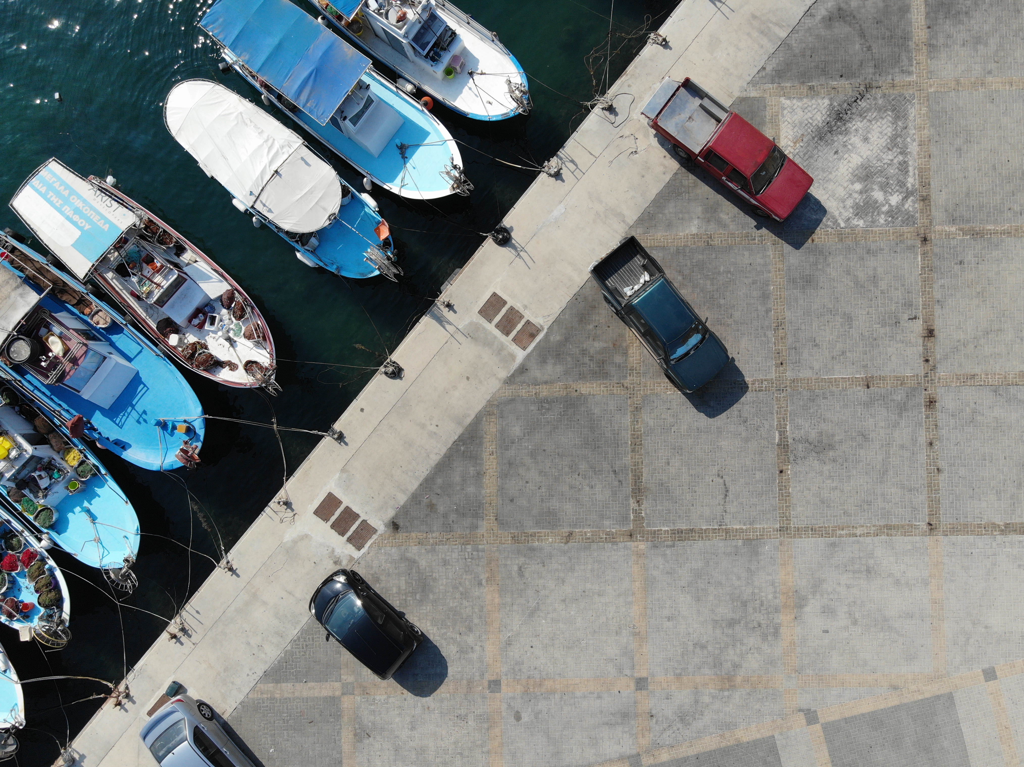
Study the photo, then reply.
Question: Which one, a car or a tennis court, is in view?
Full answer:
There is a car in the scene.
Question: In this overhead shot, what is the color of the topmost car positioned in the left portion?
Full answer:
The topmost car positioned in the left portion looks black in the image.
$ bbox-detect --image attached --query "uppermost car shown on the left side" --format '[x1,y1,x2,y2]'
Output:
[308,568,425,680]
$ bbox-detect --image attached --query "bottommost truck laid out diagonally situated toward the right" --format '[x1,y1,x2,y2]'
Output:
[586,235,728,392]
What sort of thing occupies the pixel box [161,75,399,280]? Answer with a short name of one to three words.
boat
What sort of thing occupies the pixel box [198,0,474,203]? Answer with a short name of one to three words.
boat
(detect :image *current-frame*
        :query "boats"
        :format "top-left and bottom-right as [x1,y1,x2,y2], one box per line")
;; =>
[305,0,533,123]
[0,633,34,757]
[0,228,207,471]
[9,157,283,395]
[198,0,474,203]
[0,504,72,649]
[0,377,142,592]
[161,75,399,280]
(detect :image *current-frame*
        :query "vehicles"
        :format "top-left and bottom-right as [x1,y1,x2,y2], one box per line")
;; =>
[144,693,271,767]
[308,568,425,680]
[586,235,728,392]
[641,74,813,225]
